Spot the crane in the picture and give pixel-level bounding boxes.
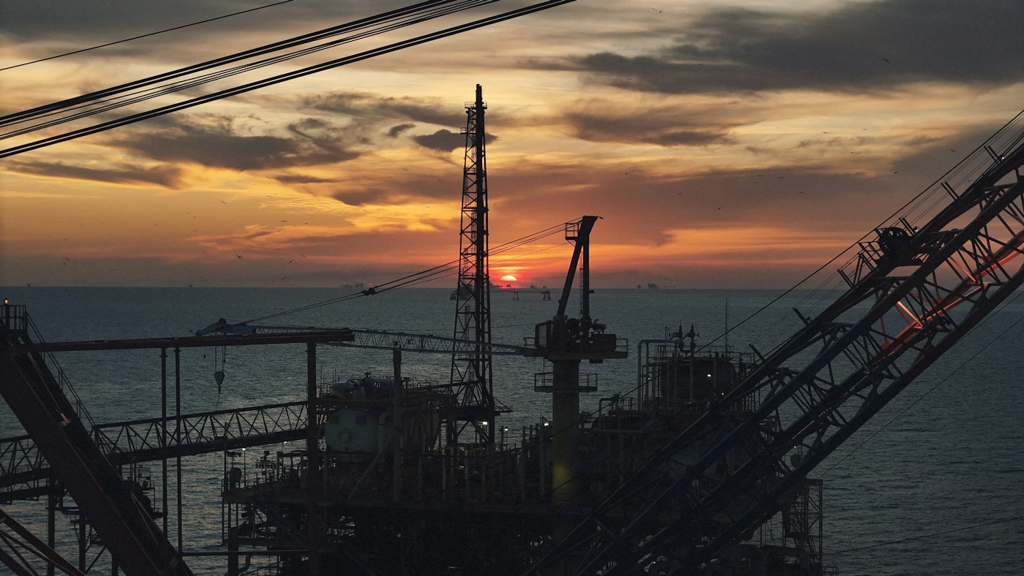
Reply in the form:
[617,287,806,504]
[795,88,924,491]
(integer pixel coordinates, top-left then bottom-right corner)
[524,215,629,492]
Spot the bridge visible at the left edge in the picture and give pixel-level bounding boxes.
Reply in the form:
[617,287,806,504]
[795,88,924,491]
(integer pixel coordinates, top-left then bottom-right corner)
[0,400,327,507]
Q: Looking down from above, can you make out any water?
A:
Yes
